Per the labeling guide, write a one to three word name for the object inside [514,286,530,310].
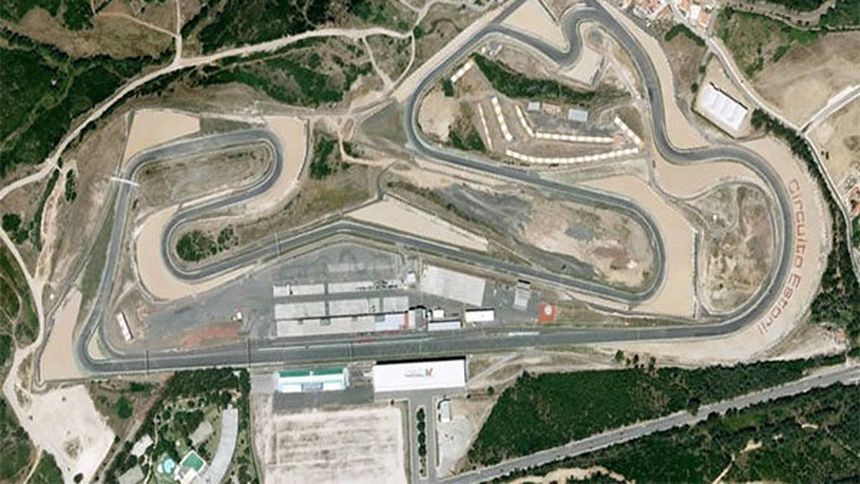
building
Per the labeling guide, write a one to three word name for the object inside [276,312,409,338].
building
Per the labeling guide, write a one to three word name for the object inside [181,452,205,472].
swimming pool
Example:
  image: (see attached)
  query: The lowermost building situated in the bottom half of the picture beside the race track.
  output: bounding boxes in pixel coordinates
[197,404,239,484]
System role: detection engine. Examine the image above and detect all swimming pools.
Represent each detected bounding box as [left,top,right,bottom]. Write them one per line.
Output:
[165,460,174,473]
[181,452,205,472]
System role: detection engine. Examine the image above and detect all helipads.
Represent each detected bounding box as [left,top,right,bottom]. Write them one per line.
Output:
[538,302,556,321]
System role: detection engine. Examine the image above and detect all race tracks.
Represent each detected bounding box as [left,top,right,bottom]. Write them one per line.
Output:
[39,0,831,381]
